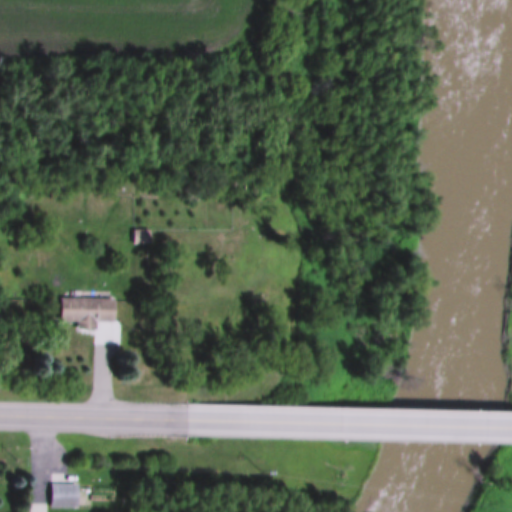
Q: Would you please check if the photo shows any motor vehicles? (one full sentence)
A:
No, I can see no motor vehicle in this picture.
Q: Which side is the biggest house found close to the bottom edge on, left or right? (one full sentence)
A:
The biggest house found close to the bottom edge is on the left side of the image.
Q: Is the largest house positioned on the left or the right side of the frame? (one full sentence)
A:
It is on the left.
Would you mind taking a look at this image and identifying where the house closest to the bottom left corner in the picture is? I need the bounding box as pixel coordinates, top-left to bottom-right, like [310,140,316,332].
[50,472,79,510]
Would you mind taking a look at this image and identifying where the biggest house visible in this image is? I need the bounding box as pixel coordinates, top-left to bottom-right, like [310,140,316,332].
[62,290,117,330]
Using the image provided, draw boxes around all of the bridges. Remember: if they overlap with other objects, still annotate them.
[186,404,512,444]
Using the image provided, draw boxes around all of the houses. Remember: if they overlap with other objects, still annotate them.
[62,290,117,330]
[50,472,79,510]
